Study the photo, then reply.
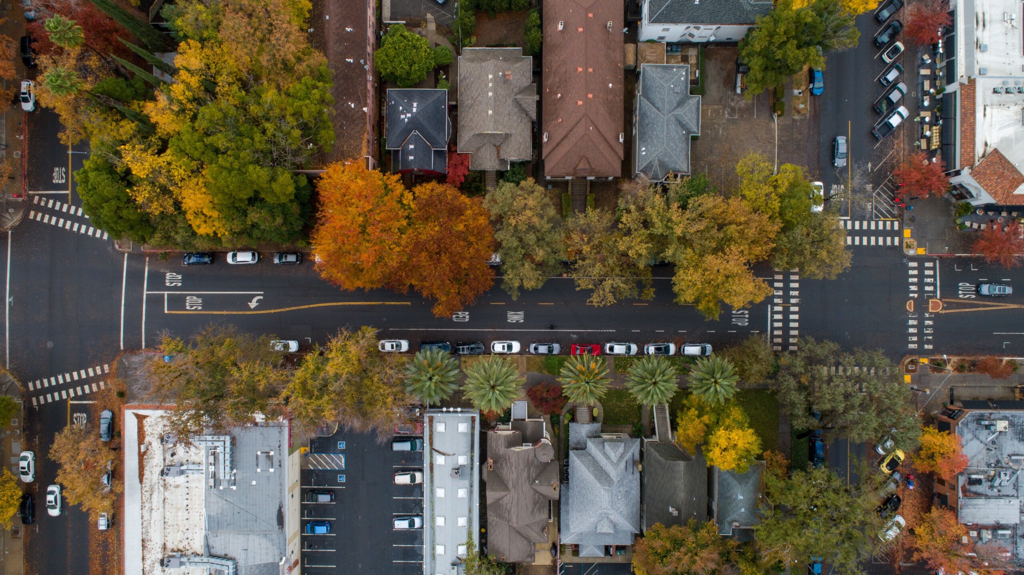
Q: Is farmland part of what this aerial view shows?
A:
No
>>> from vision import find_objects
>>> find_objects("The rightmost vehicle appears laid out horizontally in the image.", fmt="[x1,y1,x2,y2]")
[979,282,1012,297]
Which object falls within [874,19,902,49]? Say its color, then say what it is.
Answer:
black car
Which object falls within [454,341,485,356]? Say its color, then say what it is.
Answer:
black car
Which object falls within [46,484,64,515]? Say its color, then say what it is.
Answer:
white car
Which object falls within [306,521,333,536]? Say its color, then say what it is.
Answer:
blue car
